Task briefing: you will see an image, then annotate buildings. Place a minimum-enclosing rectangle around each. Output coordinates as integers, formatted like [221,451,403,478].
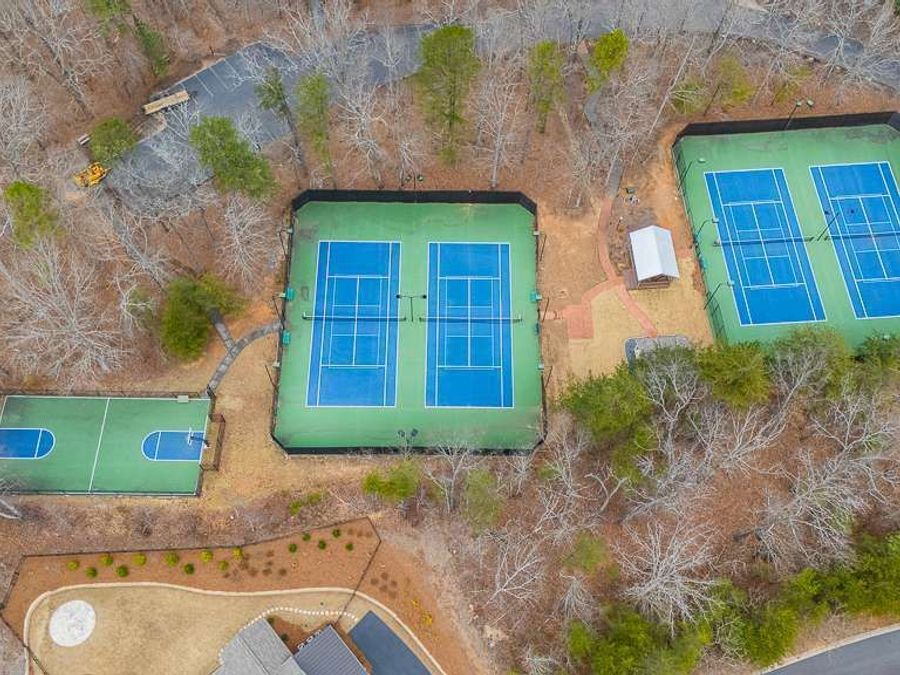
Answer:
[221,617,369,675]
[625,228,680,292]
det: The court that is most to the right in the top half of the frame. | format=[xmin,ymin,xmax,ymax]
[786,125,900,352]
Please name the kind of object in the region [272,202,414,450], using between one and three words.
tennis court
